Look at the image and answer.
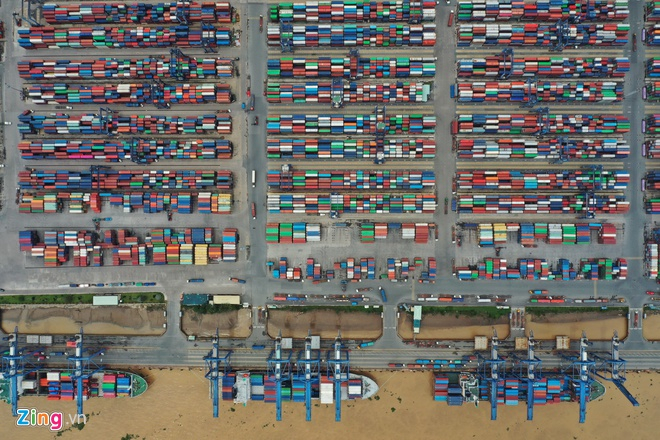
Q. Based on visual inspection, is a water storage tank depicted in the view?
No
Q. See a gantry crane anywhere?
Yes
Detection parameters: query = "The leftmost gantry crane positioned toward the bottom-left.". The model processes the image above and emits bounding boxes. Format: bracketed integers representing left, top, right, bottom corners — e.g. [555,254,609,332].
[4,325,48,417]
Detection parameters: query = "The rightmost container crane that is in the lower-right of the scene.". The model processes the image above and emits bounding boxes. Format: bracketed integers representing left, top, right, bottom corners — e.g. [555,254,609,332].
[587,330,641,408]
